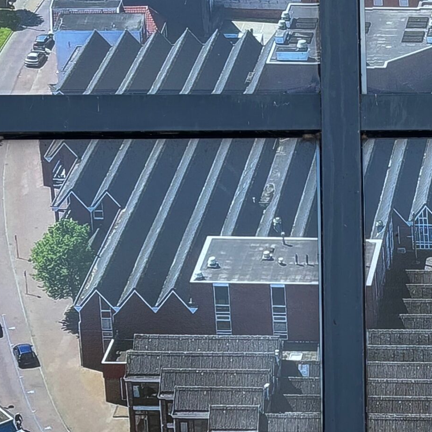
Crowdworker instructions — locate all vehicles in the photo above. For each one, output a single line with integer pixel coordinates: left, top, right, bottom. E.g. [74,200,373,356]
[32,32,54,49]
[21,50,48,69]
[14,344,39,370]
